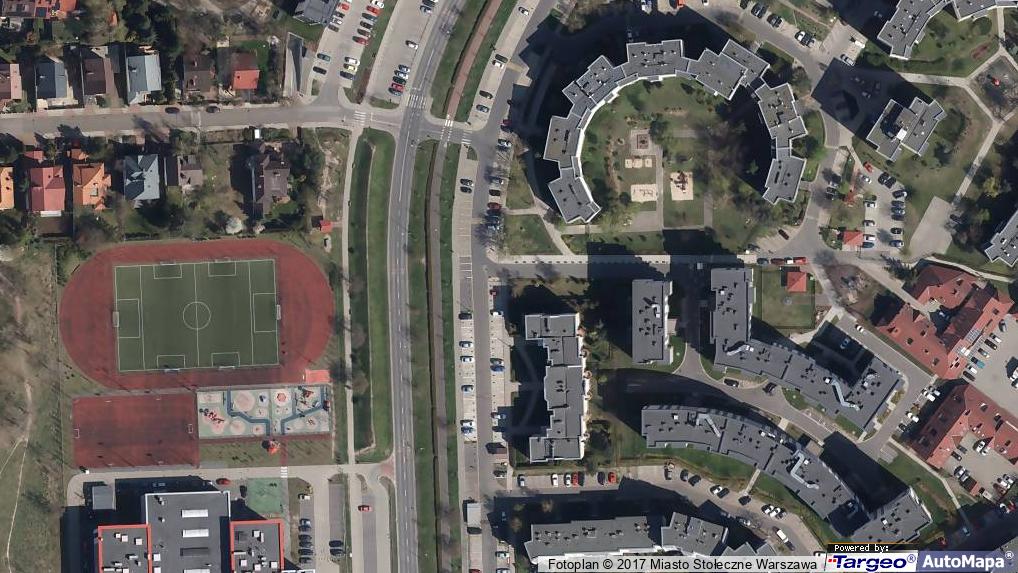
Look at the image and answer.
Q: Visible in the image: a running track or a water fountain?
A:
running track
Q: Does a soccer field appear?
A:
Yes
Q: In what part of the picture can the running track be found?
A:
left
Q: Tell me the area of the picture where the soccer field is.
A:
left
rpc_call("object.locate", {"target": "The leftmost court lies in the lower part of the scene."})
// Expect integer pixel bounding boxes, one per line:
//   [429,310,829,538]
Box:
[74,394,198,468]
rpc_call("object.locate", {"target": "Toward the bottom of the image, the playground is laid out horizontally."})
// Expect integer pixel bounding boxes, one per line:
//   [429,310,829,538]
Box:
[197,384,329,437]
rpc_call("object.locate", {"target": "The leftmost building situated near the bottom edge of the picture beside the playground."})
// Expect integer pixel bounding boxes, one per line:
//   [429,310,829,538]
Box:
[97,492,284,573]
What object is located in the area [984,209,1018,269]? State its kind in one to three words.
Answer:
building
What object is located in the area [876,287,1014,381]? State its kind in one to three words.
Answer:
building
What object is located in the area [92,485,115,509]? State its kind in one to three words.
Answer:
shed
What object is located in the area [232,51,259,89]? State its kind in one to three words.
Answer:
house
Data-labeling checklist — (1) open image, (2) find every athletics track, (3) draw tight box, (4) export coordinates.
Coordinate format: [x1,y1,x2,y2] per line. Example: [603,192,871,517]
[60,240,334,389]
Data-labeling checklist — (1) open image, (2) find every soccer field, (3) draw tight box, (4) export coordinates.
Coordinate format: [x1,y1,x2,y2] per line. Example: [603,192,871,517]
[114,259,279,372]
